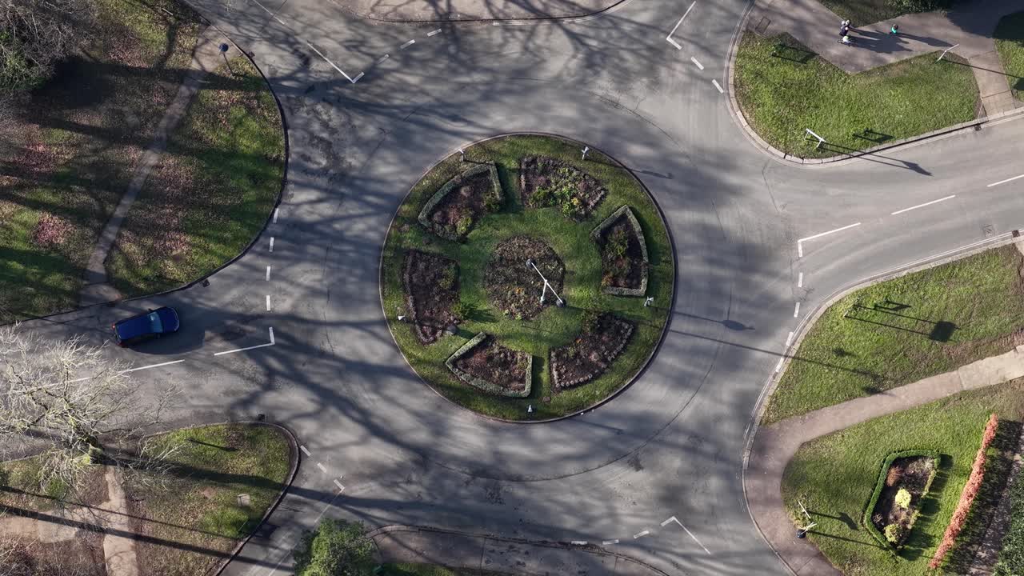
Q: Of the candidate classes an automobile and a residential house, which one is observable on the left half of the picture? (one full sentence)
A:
The feature located on the left half of the picture is an automobile.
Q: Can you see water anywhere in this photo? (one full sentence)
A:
No, water can't be seen anywhere here.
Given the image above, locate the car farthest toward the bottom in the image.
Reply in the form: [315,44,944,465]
[114,309,182,347]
